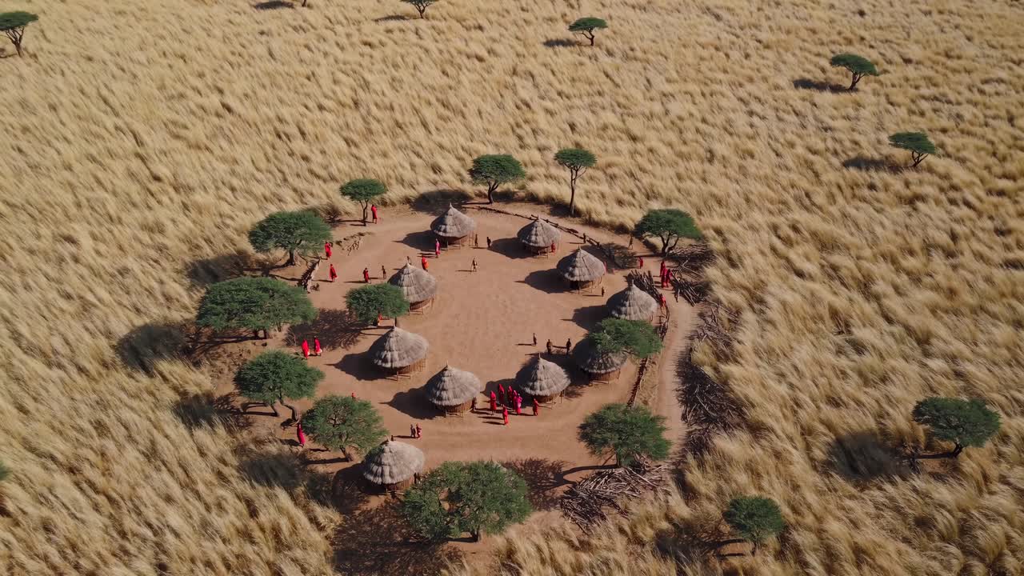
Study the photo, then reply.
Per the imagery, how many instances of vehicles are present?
none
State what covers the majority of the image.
grass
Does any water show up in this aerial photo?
No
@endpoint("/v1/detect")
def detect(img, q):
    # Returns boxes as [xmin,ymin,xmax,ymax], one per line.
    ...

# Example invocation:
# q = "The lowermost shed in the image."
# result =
[362,432,424,495]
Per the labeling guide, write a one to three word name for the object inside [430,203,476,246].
shed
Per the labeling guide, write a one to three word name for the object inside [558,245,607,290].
shed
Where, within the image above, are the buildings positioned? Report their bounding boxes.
[362,432,424,495]
[430,203,476,246]
[516,349,572,406]
[574,338,629,383]
[390,258,437,311]
[558,245,607,290]
[425,362,483,414]
[516,212,563,254]
[607,276,659,323]
[367,323,430,378]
